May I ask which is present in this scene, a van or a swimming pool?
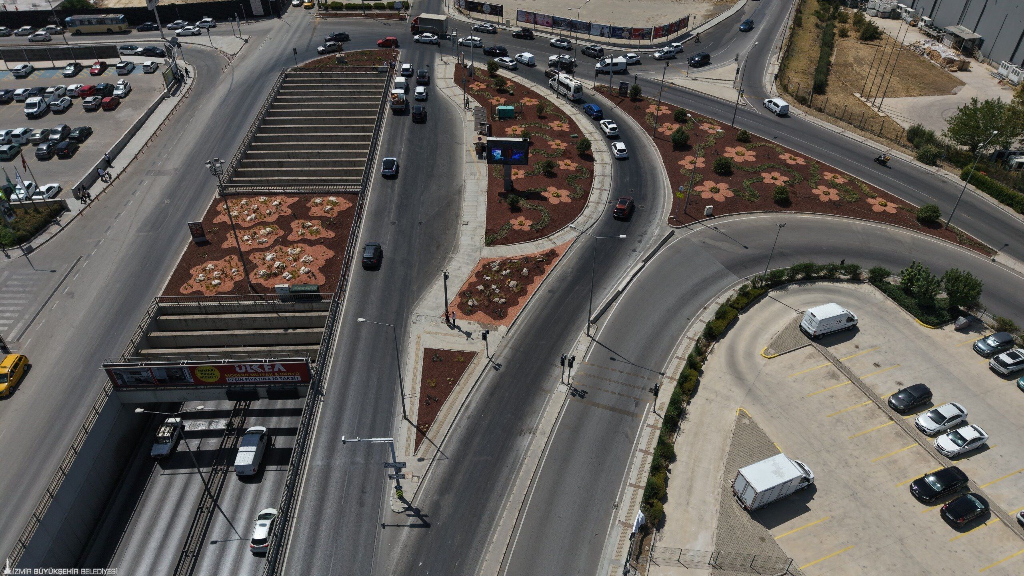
van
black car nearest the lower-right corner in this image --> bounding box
[935,491,993,529]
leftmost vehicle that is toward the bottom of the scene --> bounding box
[0,351,34,397]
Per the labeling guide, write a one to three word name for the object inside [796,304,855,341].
van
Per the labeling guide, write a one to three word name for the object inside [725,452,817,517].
truck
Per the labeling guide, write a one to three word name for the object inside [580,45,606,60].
vehicle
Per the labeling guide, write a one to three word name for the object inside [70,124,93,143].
car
